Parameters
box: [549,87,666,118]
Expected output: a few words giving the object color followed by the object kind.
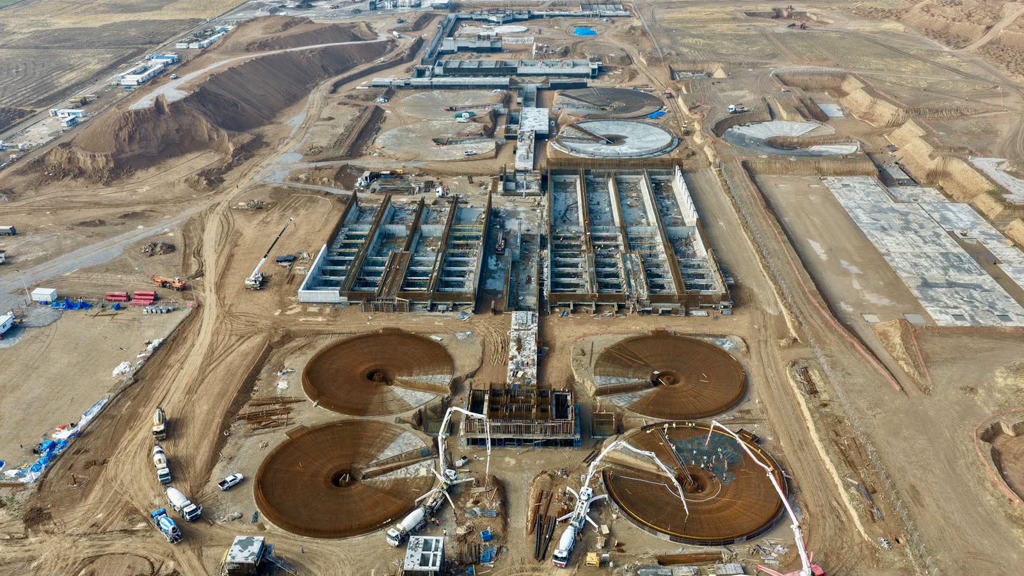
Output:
gray storage tank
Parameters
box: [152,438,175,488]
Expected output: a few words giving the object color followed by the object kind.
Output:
white truck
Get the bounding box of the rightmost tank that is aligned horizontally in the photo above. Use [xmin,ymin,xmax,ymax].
[722,121,845,154]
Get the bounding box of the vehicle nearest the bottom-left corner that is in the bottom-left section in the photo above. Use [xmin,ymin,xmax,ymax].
[146,501,183,548]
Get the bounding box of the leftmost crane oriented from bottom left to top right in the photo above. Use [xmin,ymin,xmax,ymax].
[237,220,296,295]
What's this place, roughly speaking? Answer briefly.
industrial area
